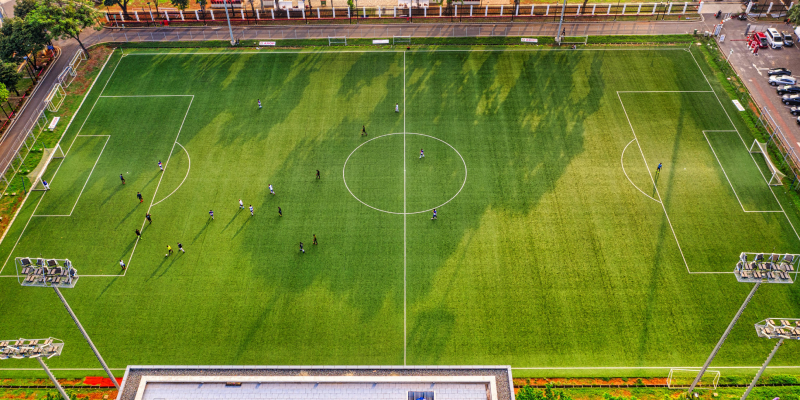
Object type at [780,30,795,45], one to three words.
car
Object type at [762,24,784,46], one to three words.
vehicle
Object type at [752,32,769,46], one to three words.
car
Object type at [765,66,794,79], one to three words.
vehicle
